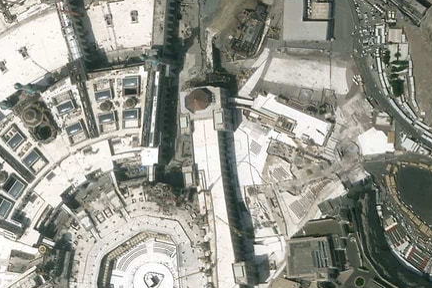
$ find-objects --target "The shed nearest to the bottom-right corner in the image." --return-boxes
[403,245,430,272]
